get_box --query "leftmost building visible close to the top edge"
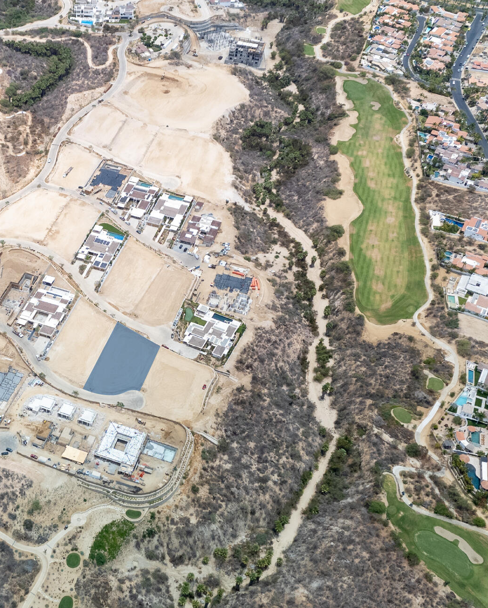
[74,0,106,28]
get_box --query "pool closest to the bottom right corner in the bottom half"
[465,461,486,489]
